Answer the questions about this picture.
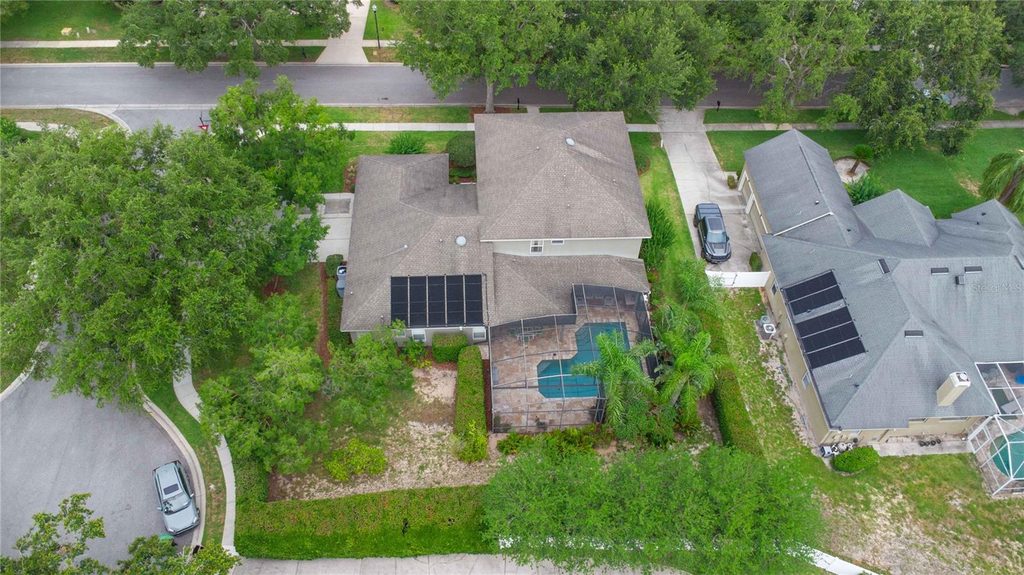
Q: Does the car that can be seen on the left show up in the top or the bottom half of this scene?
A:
bottom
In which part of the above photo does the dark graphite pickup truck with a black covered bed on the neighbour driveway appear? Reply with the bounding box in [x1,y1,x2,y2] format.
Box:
[695,205,731,263]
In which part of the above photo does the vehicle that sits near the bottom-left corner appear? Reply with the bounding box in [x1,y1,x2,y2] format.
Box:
[154,464,199,538]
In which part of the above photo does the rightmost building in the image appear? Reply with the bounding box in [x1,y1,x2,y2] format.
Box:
[741,132,1024,445]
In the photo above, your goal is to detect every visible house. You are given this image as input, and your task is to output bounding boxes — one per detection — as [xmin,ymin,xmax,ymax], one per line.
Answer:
[340,110,652,348]
[741,132,1024,445]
